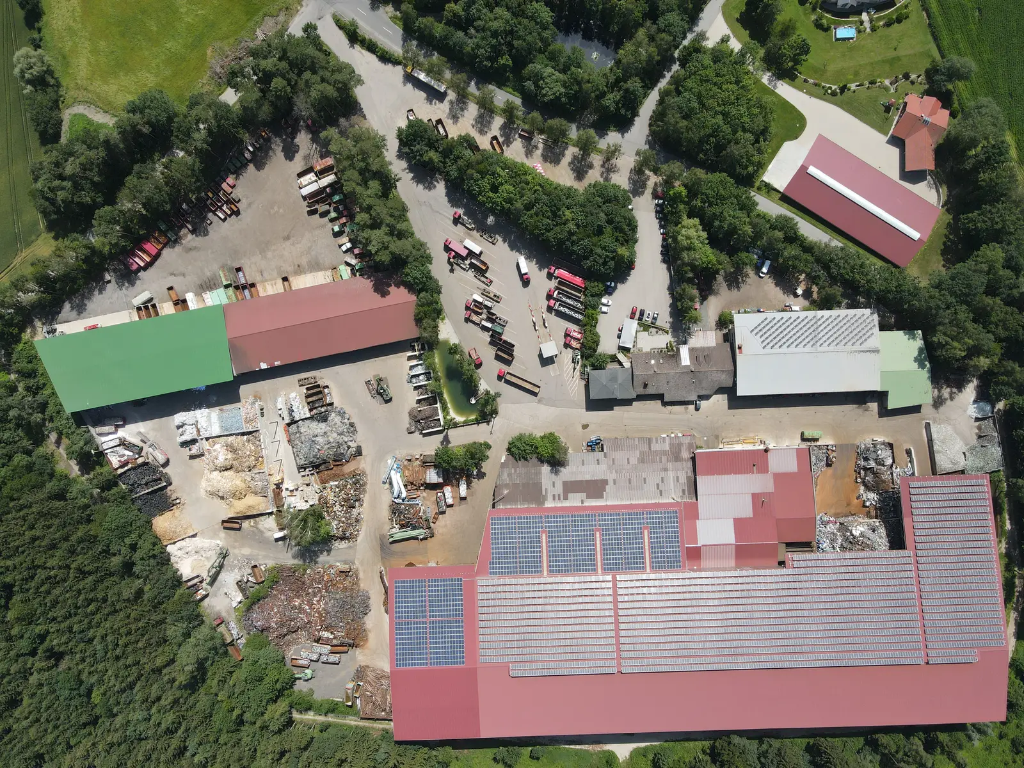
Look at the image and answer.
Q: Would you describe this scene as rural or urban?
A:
urban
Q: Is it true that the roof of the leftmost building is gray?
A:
No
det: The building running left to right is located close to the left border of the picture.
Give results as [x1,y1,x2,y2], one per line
[35,305,241,413]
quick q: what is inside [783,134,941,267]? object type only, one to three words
building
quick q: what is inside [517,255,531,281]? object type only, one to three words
vehicle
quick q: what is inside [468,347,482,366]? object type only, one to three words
vehicle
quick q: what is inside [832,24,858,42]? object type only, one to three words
swimming pool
